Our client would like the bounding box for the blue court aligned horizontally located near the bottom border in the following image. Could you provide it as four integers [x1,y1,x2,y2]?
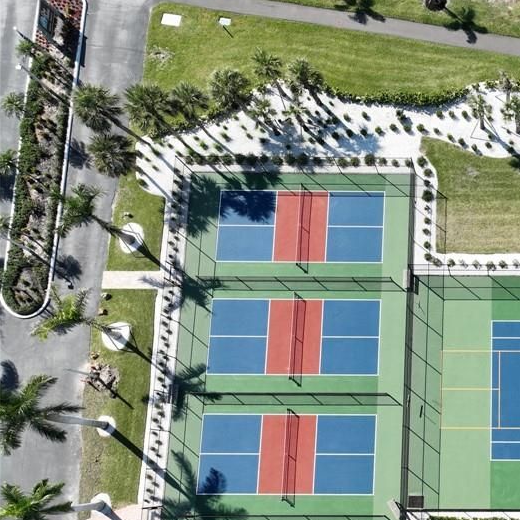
[197,414,376,495]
